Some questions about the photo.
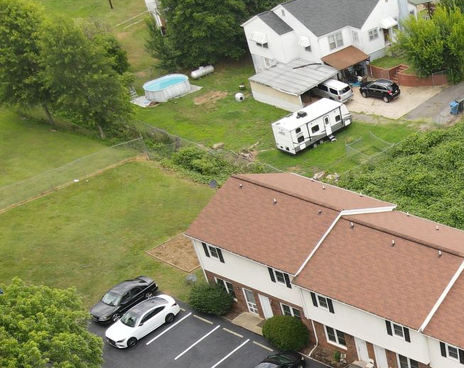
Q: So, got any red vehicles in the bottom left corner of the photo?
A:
No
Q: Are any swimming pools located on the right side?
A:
No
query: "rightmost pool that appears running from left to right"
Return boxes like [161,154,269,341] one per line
[140,81,190,106]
